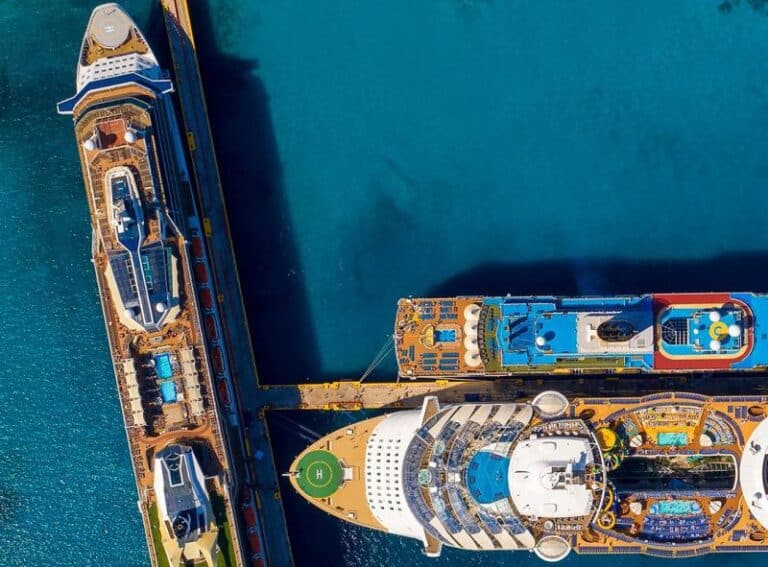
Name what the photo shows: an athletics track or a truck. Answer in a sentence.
The image shows an athletics track.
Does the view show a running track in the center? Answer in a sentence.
No, in the center there is no running track.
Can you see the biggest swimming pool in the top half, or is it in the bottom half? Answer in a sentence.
It is in the bottom half that the biggest swimming pool appears.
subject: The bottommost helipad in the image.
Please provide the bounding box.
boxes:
[296,450,347,497]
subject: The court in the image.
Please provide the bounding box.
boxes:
[90,116,128,151]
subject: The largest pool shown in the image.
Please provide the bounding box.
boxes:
[465,450,508,504]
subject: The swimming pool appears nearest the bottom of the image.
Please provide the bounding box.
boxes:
[652,499,694,515]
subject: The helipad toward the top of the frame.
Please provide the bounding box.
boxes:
[91,10,130,52]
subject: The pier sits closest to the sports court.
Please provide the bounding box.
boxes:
[160,0,293,567]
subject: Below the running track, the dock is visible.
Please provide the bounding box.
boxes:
[258,374,768,410]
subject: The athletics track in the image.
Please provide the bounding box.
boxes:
[655,293,754,369]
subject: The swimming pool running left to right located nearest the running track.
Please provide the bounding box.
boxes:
[656,432,688,447]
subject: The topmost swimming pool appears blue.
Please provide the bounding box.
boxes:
[435,328,457,343]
